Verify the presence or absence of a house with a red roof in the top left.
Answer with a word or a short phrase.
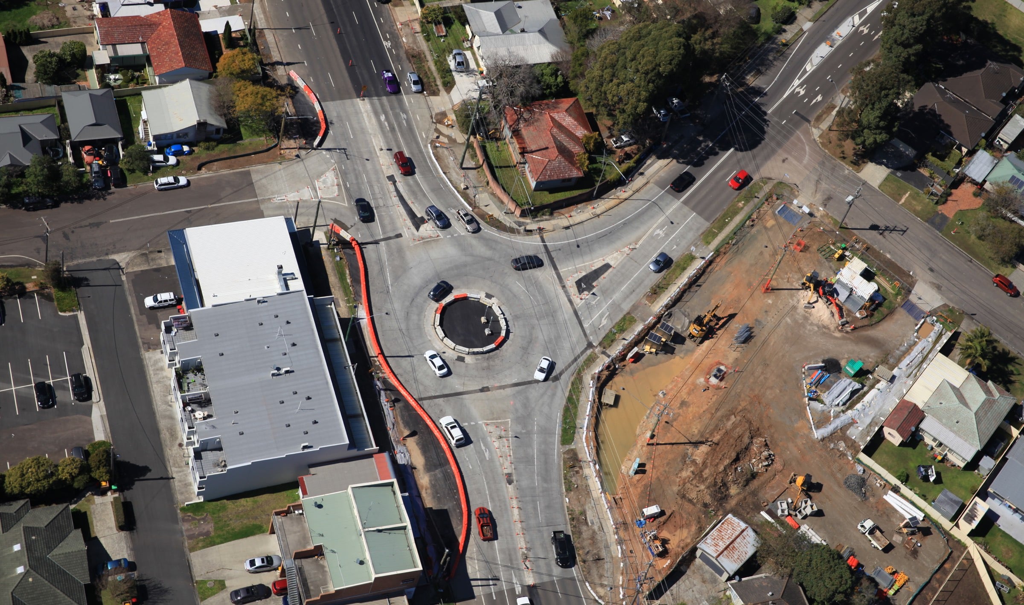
Yes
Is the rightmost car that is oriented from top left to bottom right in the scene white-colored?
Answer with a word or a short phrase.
No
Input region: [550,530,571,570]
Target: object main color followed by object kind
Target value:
black truck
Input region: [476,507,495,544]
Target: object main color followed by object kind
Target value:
red vehicle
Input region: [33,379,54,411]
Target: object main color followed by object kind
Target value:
black car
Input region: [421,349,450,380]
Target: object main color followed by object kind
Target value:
white car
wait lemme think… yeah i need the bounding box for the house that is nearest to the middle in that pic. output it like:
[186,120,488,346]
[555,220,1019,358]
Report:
[507,97,592,192]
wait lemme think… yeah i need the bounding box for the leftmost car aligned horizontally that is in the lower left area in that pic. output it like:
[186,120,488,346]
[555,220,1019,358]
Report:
[96,557,134,579]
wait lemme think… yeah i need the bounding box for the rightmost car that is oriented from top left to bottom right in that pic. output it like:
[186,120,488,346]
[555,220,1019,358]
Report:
[989,272,1022,299]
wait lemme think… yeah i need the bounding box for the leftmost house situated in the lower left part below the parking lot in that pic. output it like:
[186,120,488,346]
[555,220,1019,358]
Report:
[0,499,90,605]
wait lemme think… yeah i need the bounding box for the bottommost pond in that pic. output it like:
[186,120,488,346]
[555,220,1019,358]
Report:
[596,357,704,499]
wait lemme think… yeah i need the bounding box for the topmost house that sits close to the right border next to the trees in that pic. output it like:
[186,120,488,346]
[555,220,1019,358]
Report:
[943,61,1024,121]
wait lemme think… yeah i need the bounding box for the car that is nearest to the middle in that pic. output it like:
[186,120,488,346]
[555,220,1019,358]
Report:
[510,254,544,272]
